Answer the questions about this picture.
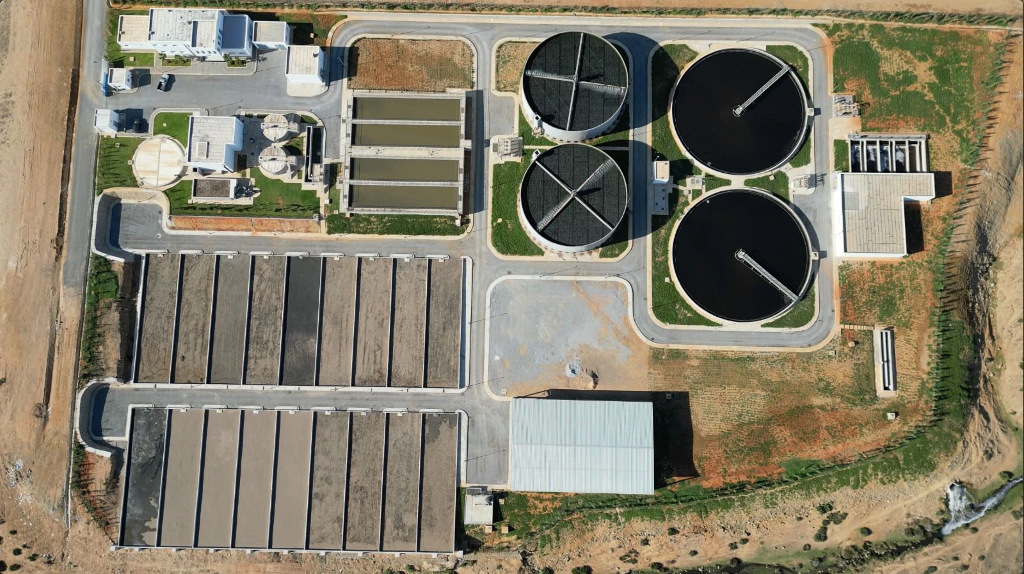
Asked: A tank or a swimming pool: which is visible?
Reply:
tank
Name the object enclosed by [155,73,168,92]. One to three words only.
vehicle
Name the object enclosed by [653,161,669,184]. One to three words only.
building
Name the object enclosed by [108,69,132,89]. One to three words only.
building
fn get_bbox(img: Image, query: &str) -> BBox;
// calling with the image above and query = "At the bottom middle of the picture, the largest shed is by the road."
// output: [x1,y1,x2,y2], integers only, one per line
[510,398,654,494]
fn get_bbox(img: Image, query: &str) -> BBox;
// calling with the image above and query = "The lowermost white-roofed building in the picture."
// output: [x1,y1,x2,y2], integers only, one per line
[465,494,493,525]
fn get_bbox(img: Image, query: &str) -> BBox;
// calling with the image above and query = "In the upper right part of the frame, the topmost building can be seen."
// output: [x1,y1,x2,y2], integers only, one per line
[834,94,860,116]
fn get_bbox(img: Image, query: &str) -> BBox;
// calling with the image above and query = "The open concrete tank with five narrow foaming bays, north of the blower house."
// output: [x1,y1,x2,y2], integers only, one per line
[844,134,929,173]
